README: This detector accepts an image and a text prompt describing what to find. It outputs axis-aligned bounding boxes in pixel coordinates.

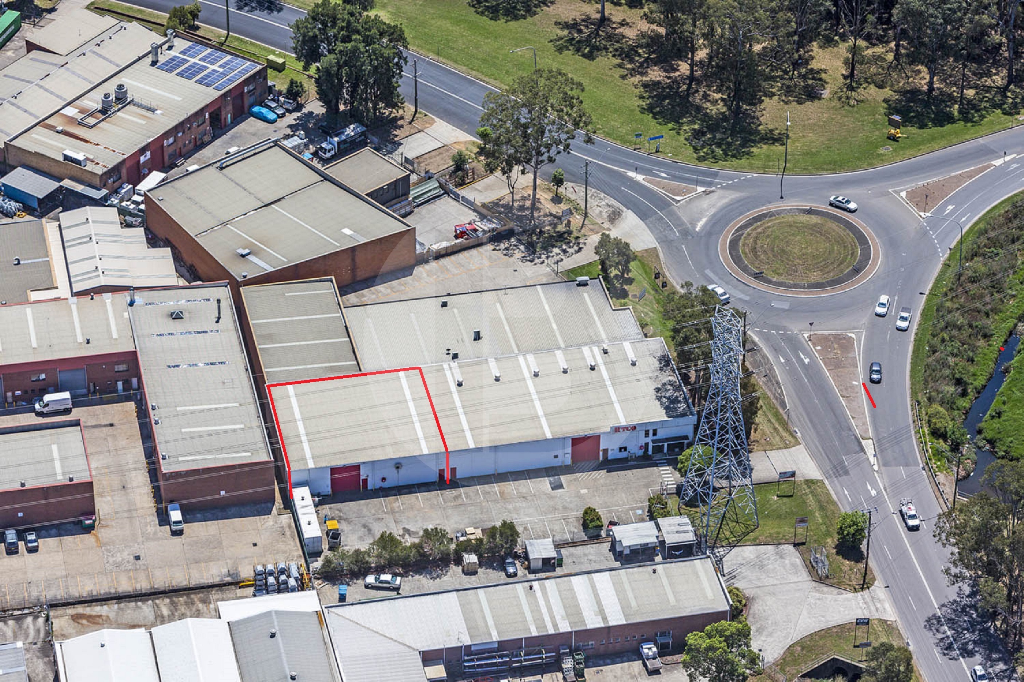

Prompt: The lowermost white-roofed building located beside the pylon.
[323,552,733,675]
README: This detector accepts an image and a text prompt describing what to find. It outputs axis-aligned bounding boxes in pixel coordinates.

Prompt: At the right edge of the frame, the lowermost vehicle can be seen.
[970,662,990,682]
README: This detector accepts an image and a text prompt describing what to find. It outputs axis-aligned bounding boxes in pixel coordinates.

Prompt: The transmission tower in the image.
[672,305,769,552]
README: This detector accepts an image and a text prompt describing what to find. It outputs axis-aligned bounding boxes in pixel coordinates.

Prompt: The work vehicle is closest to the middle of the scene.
[455,222,473,238]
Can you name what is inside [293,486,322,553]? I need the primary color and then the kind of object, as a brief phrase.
white shipping container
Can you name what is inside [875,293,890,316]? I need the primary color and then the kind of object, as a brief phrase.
white car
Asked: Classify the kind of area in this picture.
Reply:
industrial area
